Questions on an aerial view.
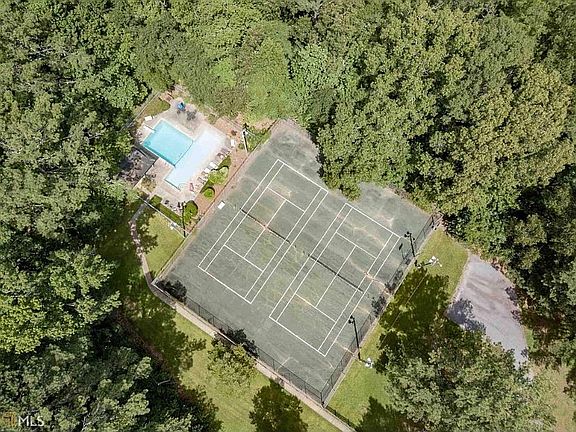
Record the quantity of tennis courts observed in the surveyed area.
2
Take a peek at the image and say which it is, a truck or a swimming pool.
swimming pool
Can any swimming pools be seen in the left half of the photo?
Yes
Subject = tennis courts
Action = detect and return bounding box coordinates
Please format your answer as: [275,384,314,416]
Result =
[237,176,434,404]
[152,118,348,344]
